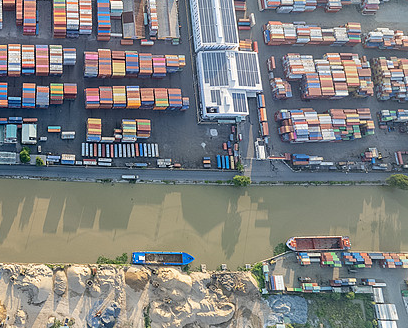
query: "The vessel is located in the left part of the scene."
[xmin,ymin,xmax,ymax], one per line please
[130,250,194,265]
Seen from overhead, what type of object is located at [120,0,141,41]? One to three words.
building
